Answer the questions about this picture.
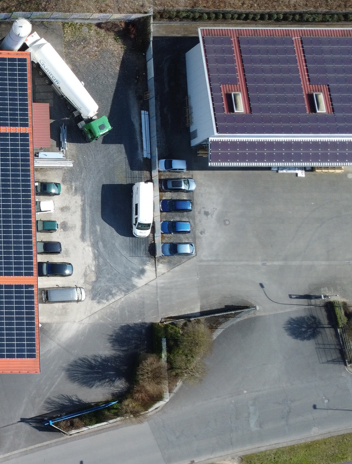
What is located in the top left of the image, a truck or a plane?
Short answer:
truck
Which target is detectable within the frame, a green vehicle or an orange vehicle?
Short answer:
green vehicle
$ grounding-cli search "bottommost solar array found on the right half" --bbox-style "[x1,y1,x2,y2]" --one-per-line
[212,142,352,161]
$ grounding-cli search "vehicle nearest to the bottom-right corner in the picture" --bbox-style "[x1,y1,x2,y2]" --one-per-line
[162,242,197,256]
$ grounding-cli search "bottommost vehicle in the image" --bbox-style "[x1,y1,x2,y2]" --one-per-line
[41,286,85,303]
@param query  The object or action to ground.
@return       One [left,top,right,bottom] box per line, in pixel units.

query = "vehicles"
[161,219,191,235]
[131,183,154,237]
[36,239,63,255]
[70,111,111,142]
[162,242,197,256]
[35,219,61,234]
[160,198,192,213]
[34,181,61,196]
[158,176,196,193]
[36,261,75,277]
[34,199,54,213]
[41,286,85,303]
[157,158,188,173]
